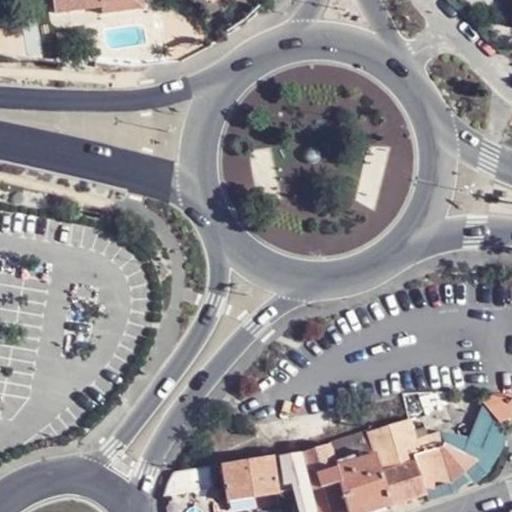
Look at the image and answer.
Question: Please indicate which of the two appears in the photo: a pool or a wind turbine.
pool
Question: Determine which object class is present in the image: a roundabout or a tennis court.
roundabout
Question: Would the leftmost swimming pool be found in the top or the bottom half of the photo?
top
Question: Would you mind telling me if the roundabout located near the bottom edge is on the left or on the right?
left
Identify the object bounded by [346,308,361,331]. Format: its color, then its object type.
white vehicle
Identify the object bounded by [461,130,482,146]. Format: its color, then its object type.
white car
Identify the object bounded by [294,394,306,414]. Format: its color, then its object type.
white vehicle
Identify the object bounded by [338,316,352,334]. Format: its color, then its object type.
white car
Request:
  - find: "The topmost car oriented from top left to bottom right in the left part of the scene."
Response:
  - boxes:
[187,206,208,225]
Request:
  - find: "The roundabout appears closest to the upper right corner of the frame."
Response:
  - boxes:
[176,18,459,301]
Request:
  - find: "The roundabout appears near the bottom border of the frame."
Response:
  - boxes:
[0,456,132,512]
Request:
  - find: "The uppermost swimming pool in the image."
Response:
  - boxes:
[104,24,148,50]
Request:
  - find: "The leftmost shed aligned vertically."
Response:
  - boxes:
[24,22,42,58]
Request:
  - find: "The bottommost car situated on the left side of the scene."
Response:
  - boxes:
[142,474,156,494]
